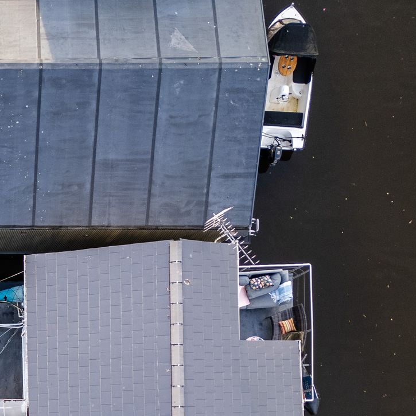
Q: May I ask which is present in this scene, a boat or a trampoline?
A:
boat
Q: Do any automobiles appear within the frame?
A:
No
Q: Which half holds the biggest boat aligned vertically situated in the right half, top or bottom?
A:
top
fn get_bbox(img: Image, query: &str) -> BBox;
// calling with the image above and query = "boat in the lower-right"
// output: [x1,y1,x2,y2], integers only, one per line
[305,367,318,415]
